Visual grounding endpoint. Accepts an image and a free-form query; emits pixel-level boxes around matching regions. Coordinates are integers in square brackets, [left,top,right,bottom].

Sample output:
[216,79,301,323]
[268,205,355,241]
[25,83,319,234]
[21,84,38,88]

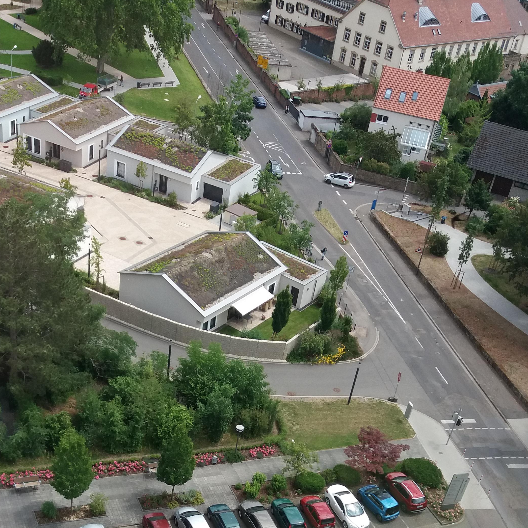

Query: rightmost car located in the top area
[324,172,357,191]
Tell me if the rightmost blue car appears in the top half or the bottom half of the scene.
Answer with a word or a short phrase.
bottom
